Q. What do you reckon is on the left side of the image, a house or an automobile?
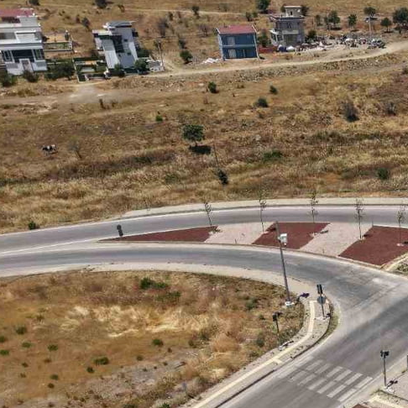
house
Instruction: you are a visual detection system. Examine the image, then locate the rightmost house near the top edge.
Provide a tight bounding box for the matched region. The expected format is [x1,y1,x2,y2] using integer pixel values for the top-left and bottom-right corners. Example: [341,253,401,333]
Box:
[264,2,304,48]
